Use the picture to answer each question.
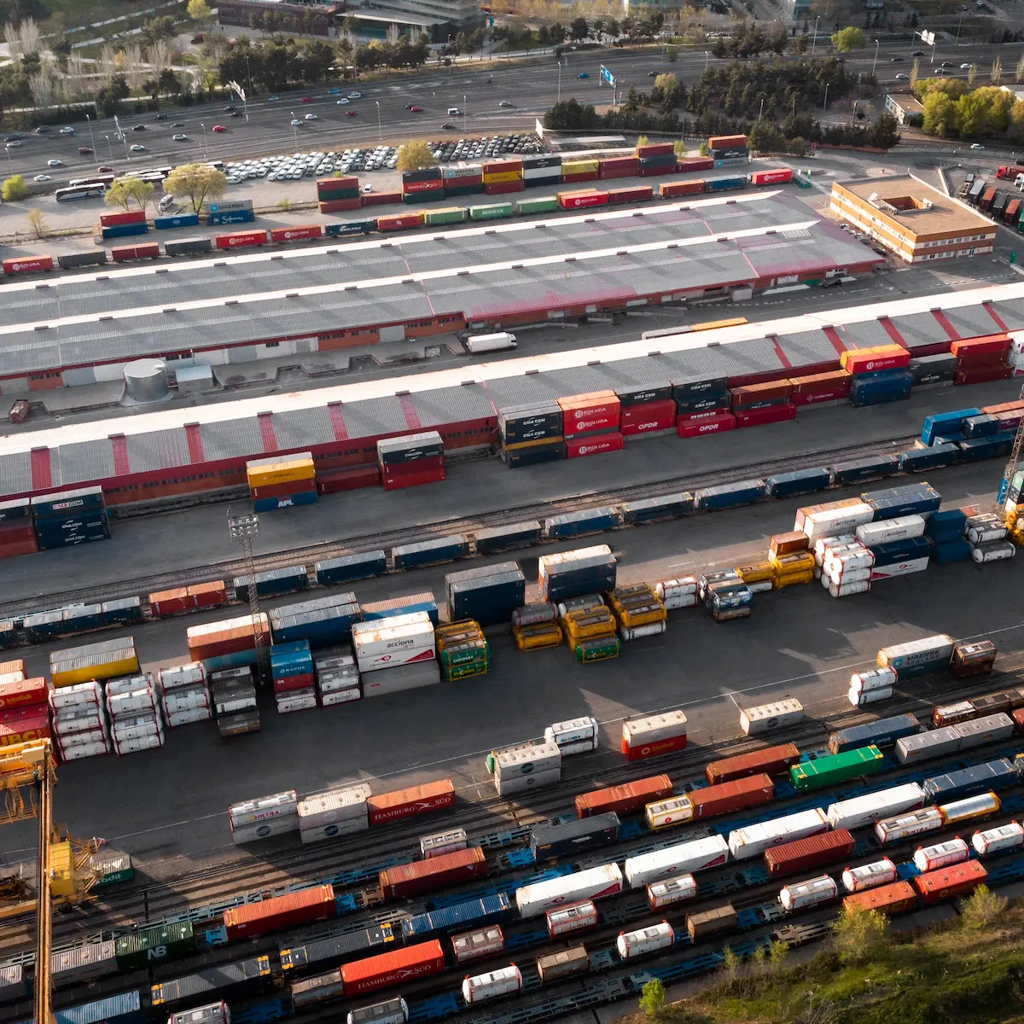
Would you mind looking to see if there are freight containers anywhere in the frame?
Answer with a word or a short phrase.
Yes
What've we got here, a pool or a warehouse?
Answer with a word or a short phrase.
warehouse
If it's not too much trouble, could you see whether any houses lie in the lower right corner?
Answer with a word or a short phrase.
No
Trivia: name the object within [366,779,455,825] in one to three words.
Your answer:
shipping container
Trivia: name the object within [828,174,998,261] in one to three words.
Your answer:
building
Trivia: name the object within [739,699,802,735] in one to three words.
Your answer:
shipping container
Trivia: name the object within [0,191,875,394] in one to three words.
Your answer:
warehouse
